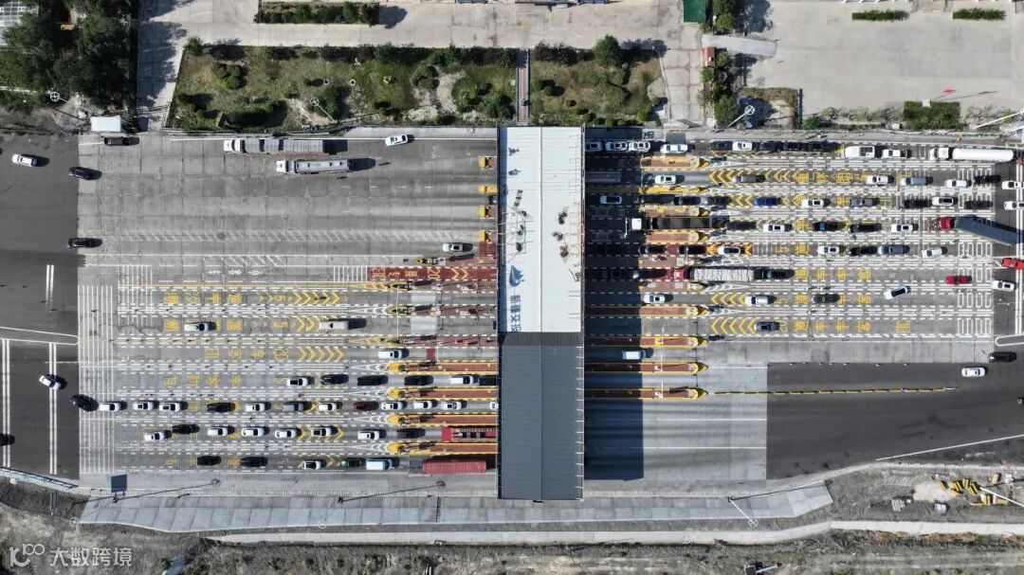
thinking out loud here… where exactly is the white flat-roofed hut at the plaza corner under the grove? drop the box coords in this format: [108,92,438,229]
[91,116,130,135]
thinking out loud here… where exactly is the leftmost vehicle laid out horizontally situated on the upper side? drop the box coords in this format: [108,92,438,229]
[14,154,37,166]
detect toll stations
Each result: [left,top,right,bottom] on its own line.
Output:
[79,125,994,501]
